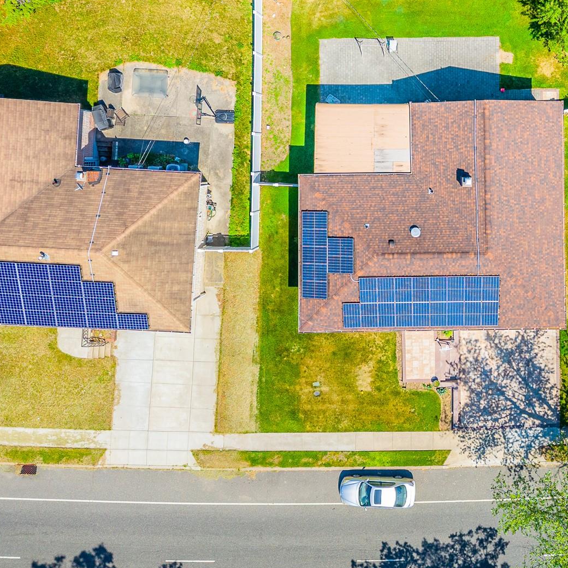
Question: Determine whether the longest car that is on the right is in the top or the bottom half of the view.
bottom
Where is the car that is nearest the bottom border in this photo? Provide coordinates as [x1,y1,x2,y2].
[340,471,416,511]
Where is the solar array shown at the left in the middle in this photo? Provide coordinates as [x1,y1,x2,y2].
[0,262,150,329]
